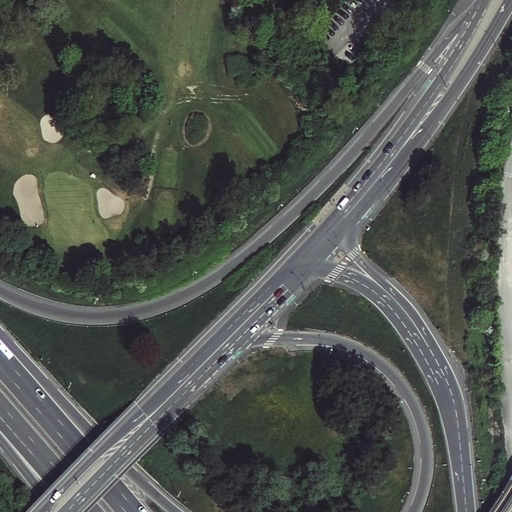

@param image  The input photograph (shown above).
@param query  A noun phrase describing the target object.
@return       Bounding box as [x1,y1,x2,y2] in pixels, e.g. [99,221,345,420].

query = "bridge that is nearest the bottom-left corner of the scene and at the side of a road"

[25,376,160,512]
